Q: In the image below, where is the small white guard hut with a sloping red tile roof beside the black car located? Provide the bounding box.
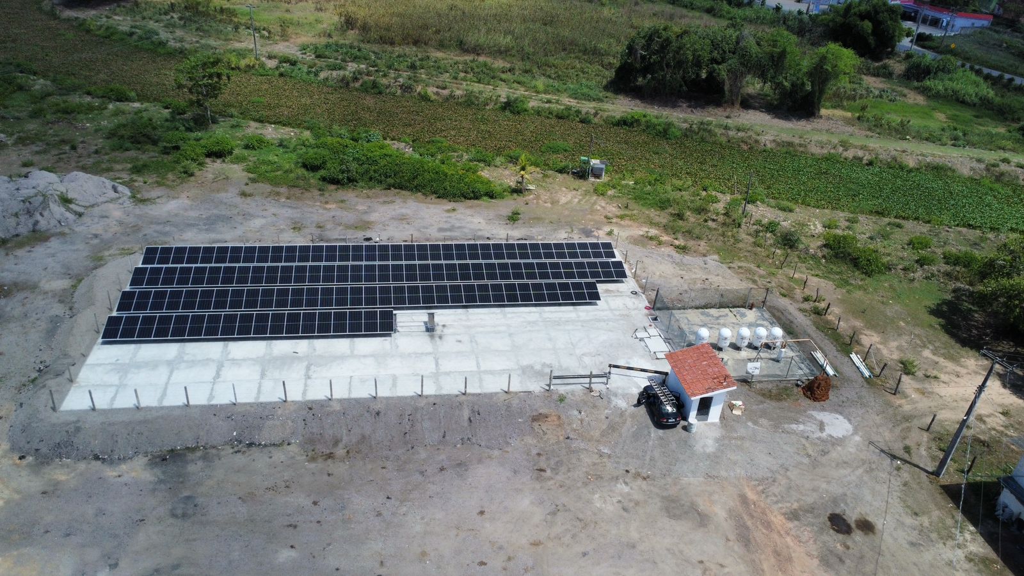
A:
[666,344,738,425]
